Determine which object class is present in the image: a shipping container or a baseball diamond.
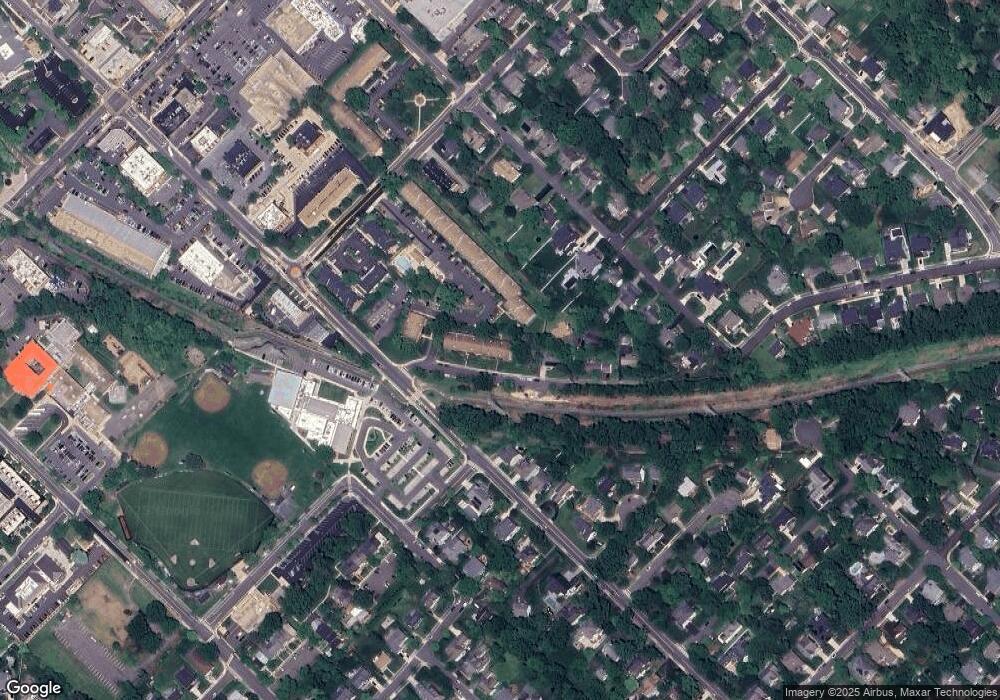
baseball diamond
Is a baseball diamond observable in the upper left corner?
No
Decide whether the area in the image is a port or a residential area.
residential area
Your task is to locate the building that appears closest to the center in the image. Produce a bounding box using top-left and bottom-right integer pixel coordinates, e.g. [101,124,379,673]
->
[443,333,513,361]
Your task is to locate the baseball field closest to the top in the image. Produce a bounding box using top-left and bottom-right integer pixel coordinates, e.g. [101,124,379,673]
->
[194,367,229,412]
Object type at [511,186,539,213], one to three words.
house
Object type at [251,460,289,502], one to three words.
baseball field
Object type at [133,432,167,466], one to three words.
baseball field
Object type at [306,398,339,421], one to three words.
building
